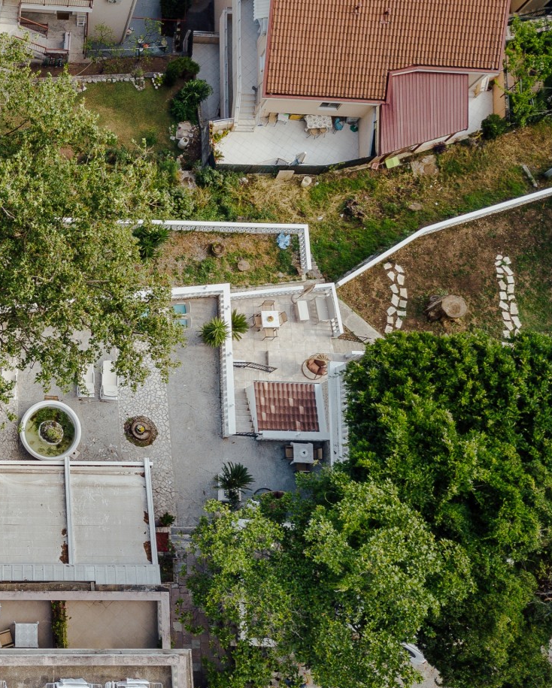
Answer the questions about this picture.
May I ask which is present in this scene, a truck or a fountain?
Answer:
fountain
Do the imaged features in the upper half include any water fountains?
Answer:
No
